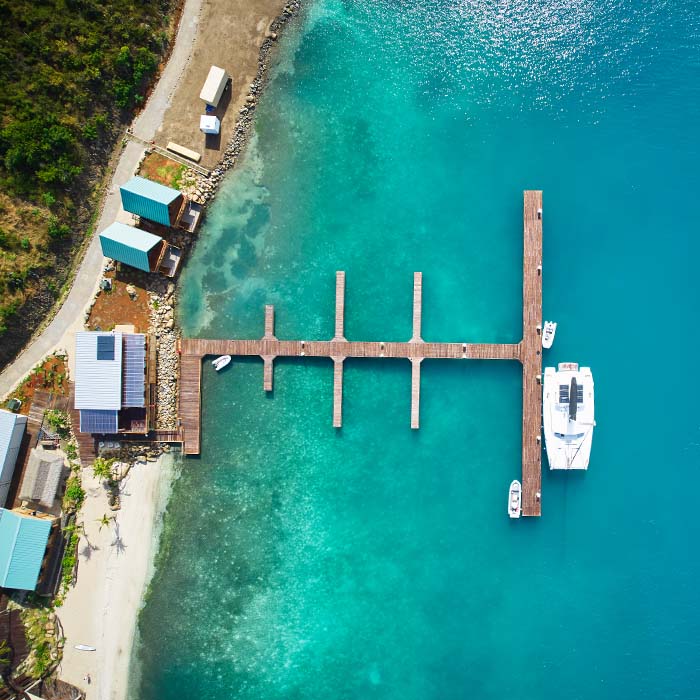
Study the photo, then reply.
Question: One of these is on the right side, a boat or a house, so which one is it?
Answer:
boat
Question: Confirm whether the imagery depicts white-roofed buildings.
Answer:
Yes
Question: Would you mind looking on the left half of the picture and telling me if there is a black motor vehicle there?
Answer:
No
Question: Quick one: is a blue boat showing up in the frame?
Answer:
No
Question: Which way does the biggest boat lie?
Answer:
up and down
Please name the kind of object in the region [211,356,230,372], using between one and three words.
boat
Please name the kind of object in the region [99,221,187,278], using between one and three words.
house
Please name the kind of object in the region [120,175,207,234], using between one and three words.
house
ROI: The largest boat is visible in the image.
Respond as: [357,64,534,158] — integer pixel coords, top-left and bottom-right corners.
[540,362,596,470]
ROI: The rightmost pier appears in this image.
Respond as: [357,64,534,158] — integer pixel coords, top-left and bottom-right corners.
[180,191,543,516]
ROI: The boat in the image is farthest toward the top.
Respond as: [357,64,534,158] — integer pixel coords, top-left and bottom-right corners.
[542,321,558,347]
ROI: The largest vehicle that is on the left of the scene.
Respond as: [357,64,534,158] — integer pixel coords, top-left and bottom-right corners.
[196,60,228,111]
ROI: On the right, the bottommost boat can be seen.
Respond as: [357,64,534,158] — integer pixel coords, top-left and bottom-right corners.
[508,480,524,520]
